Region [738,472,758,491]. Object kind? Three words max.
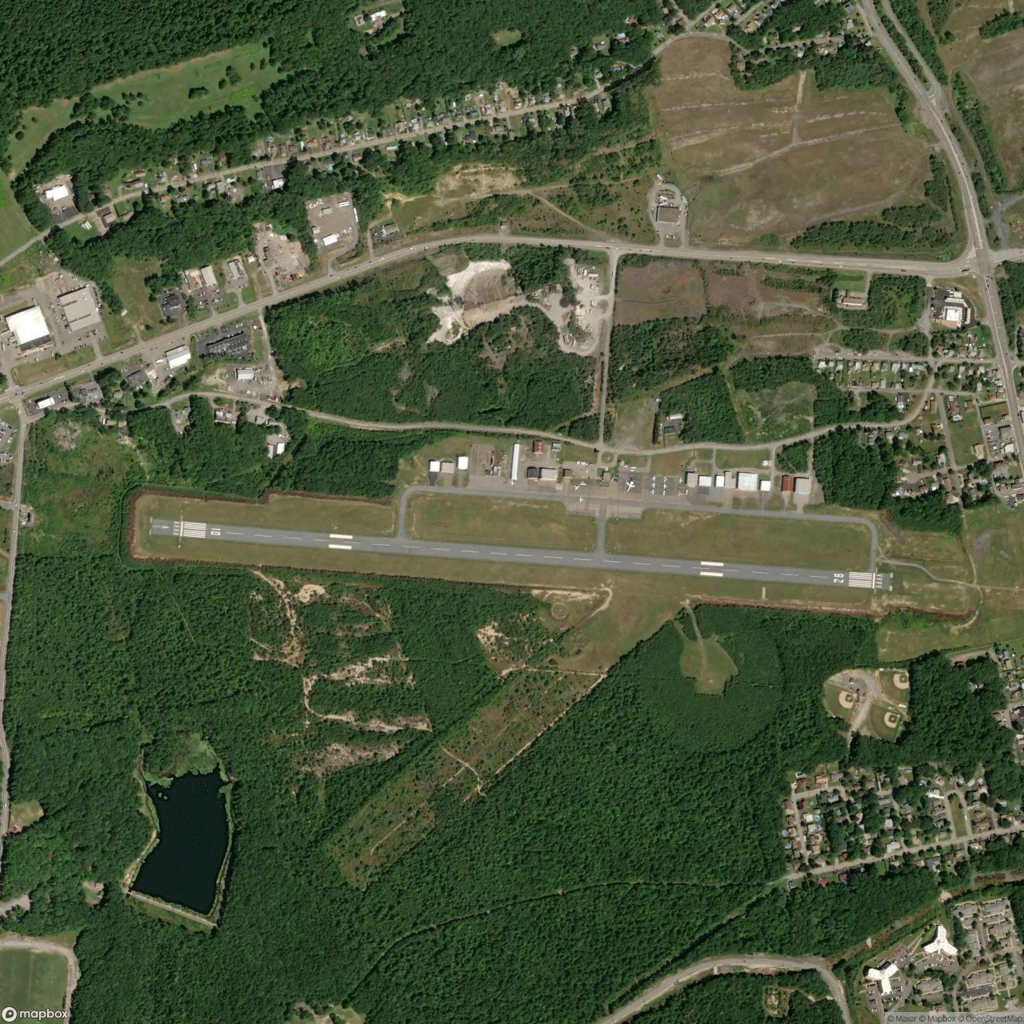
hangar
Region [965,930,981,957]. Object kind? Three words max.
building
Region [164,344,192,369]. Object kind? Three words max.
building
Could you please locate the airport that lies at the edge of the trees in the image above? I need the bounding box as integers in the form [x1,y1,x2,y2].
[150,444,893,598]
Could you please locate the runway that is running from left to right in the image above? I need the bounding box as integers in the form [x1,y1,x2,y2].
[151,519,890,589]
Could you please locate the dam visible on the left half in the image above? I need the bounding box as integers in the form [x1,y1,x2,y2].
[128,890,218,932]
